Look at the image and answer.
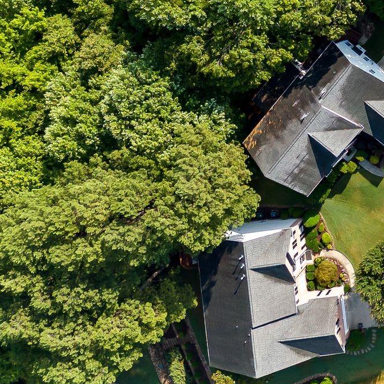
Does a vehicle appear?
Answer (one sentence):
No, no vehicle can be seen from above.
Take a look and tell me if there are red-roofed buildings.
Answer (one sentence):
No, the scene contains no red-roofed building.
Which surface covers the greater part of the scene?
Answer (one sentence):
The bulk of the photo consists of trees.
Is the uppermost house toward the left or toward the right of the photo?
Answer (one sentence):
The uppermost house is on the right side of the image.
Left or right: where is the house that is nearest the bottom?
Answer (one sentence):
You can find the house that is nearest the bottom on the right side of the picture.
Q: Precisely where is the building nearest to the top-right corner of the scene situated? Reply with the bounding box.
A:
[247,39,384,197]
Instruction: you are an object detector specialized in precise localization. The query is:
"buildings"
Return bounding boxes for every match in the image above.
[247,39,384,197]
[197,217,350,378]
